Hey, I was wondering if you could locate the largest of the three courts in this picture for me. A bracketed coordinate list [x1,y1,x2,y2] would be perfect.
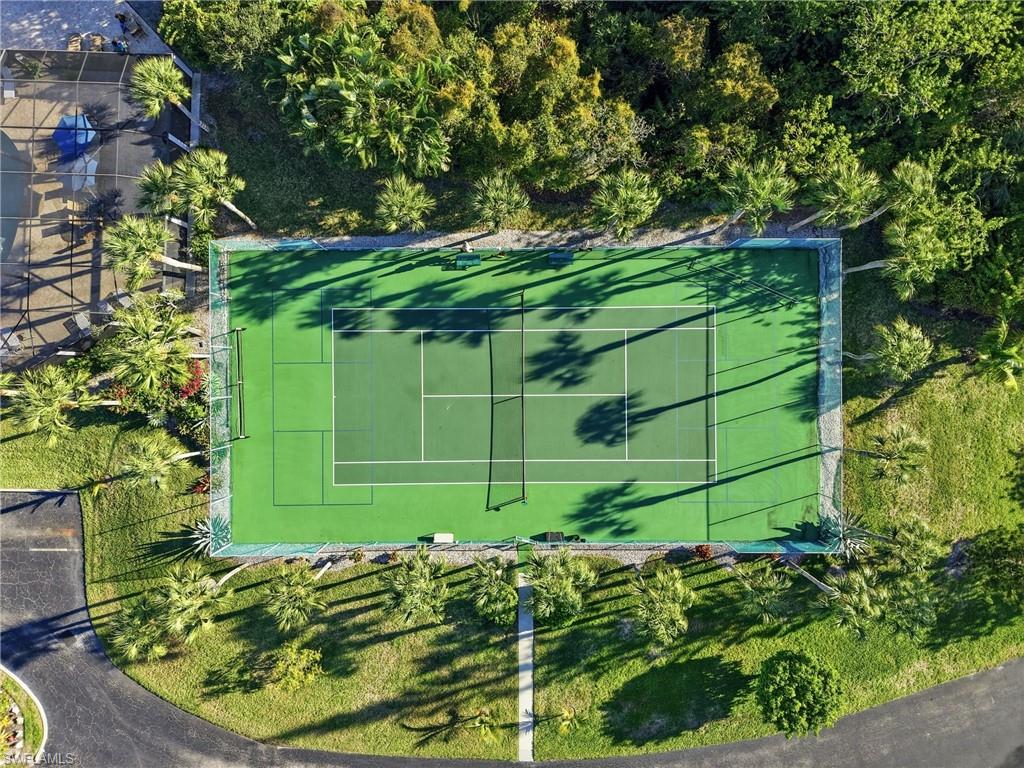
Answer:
[230,247,820,544]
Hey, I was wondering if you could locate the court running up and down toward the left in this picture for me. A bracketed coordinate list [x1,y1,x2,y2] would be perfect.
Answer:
[272,289,373,506]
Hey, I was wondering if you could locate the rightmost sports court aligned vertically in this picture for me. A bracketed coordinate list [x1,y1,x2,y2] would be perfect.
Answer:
[676,287,778,502]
